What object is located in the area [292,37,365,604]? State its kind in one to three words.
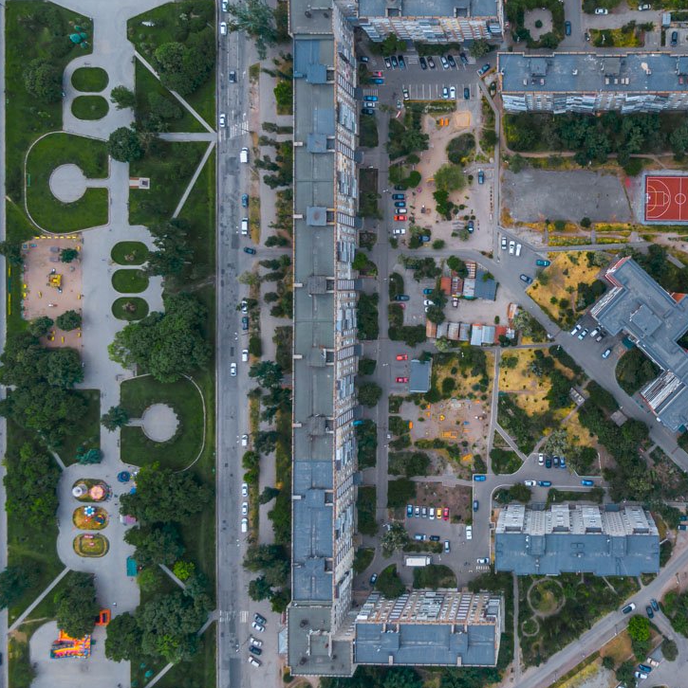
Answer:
building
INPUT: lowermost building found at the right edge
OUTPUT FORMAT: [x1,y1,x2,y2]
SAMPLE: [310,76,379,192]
[495,501,659,577]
